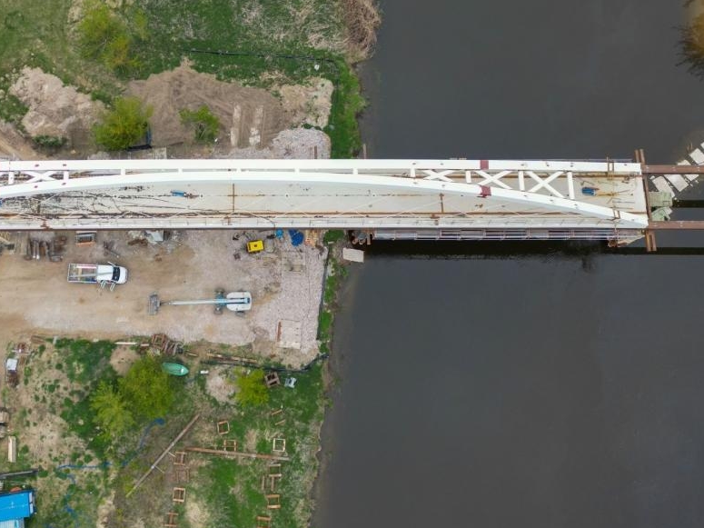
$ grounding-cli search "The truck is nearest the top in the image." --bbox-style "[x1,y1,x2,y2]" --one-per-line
[67,261,129,292]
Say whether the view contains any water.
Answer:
Yes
